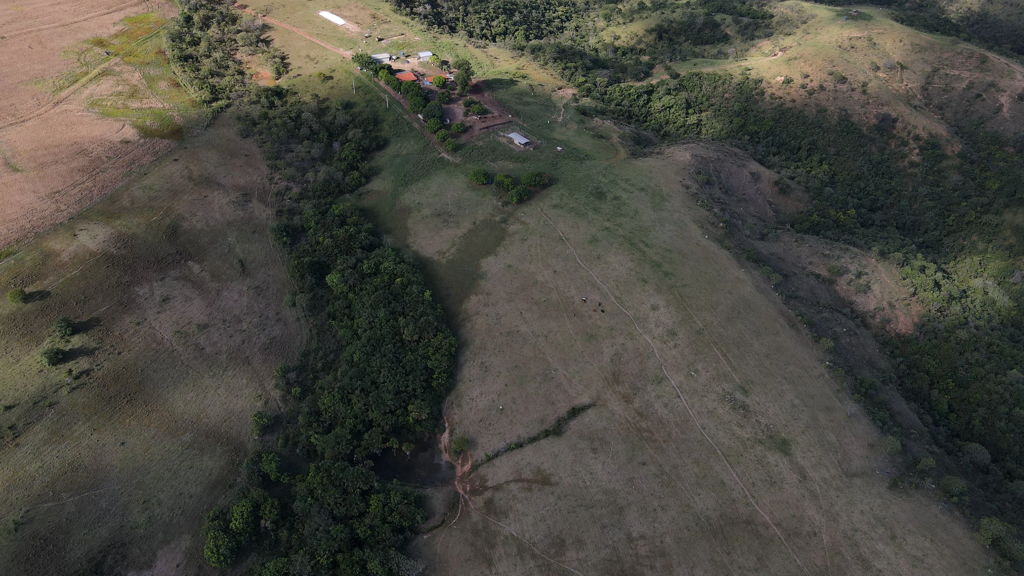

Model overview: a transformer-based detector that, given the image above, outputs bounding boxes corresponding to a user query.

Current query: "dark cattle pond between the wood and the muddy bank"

[373,441,455,488]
